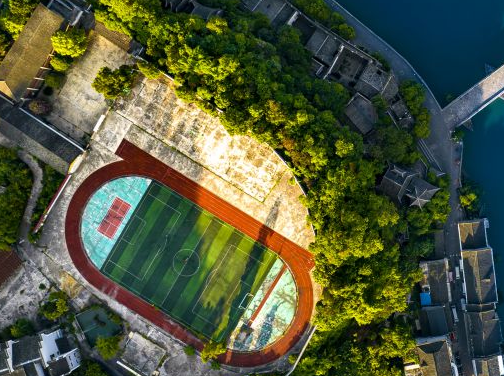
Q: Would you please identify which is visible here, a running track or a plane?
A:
running track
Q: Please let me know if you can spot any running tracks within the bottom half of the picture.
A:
Yes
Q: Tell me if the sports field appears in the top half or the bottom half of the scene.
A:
bottom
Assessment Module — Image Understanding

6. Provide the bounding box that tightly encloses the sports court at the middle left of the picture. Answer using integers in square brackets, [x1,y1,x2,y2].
[98,196,131,239]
